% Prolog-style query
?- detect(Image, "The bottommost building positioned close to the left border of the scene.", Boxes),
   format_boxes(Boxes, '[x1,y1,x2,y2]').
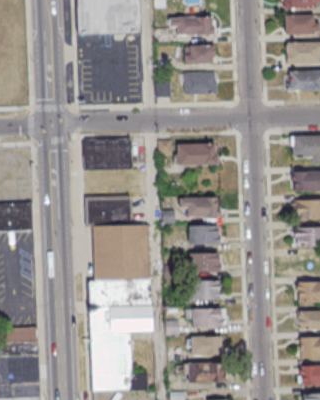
[0,384,40,398]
